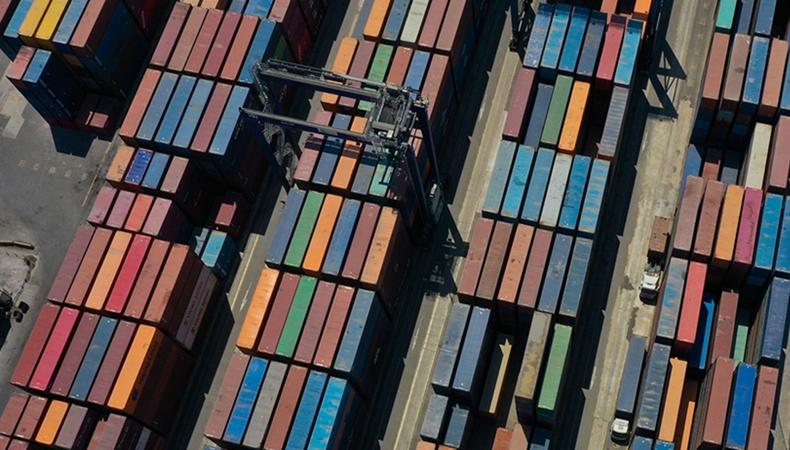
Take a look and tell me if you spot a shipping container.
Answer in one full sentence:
Yes, this view includes a shipping container.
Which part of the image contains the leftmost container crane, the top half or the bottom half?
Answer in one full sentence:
Seen from above, the leftmost container crane lies in the top half of the view.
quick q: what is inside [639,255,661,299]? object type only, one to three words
truck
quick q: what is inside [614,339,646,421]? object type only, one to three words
shipping container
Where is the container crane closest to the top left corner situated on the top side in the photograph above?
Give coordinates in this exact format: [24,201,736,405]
[241,57,449,237]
